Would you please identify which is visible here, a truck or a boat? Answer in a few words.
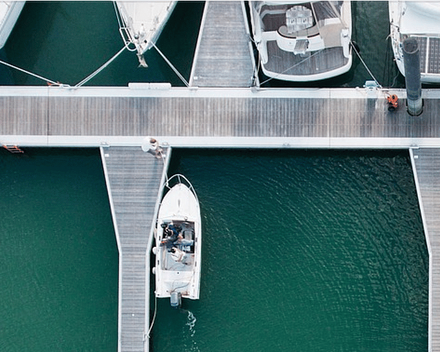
boat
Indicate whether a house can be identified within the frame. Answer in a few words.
No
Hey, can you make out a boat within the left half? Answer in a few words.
Yes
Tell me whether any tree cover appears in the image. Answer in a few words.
No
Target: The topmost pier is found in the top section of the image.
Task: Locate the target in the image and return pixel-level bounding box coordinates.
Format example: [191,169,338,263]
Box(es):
[188,0,258,88]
